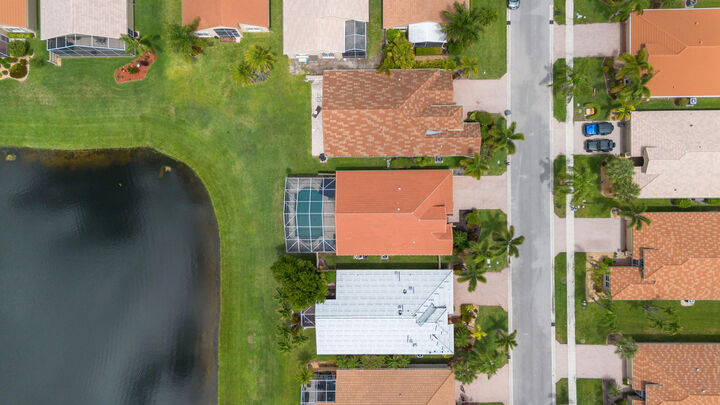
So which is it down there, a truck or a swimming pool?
swimming pool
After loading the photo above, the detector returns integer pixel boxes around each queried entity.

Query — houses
[321,70,483,157]
[626,110,720,199]
[316,367,455,405]
[181,0,270,37]
[628,342,720,405]
[604,212,720,301]
[283,0,370,60]
[40,0,131,45]
[0,0,36,32]
[314,269,454,356]
[335,169,455,256]
[626,9,720,98]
